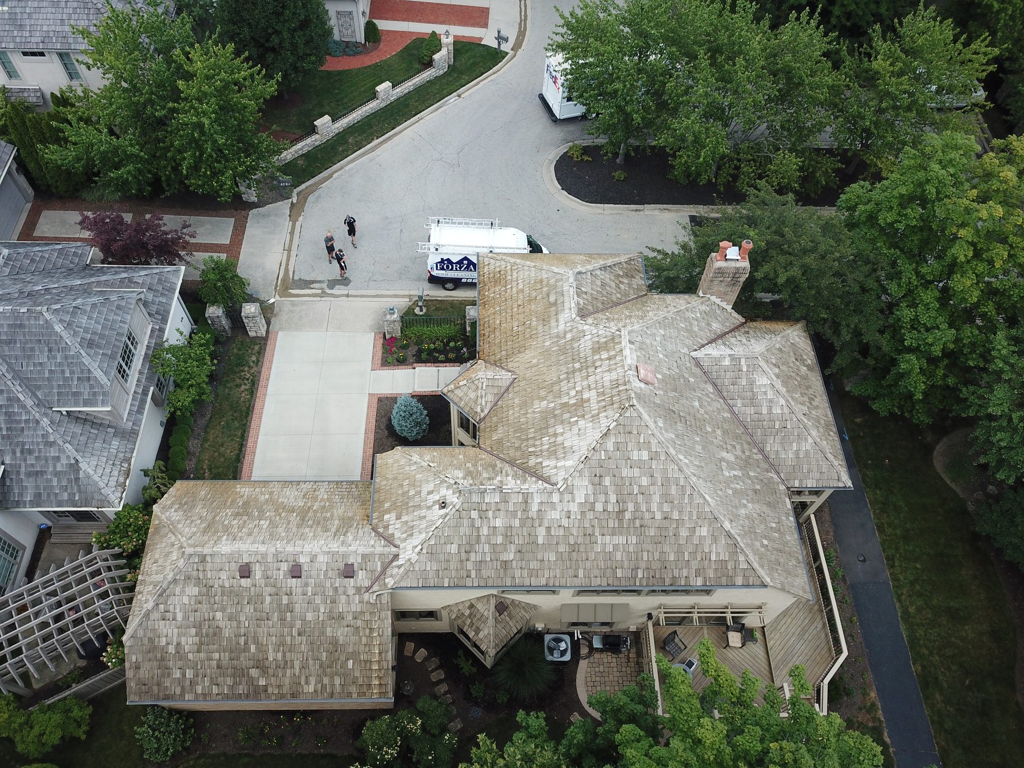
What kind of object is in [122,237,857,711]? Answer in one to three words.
house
